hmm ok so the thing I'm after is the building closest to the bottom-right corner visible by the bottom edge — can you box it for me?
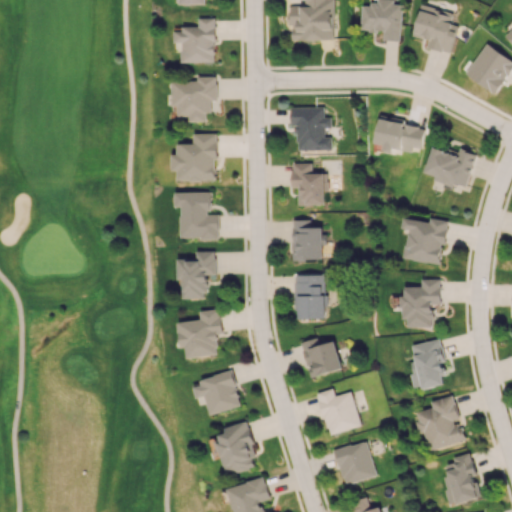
[446,453,482,507]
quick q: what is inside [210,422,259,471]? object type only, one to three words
house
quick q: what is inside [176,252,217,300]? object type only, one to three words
house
